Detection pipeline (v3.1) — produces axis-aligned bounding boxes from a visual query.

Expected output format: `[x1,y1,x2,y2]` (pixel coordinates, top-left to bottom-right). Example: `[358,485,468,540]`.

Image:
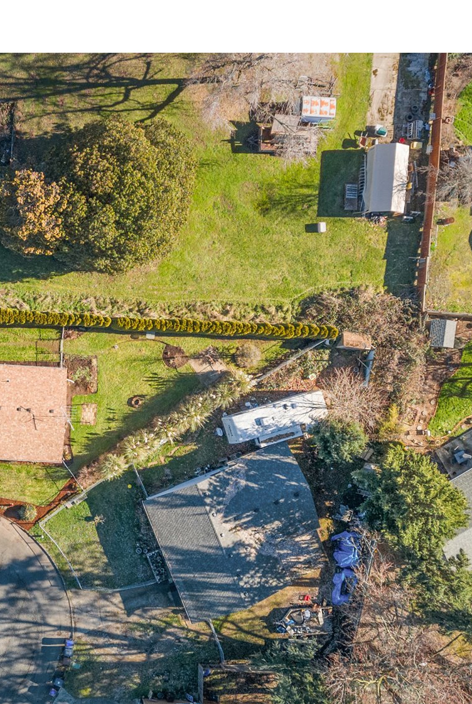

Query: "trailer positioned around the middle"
[210,392,333,449]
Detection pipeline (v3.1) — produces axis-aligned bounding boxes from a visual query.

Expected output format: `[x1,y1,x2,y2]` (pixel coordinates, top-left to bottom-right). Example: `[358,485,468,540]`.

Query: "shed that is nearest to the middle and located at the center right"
[332,332,372,350]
